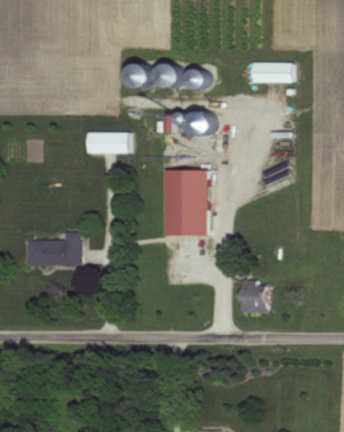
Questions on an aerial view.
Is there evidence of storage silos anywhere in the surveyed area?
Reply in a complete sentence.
Yes, a storage silo is visible in the scene.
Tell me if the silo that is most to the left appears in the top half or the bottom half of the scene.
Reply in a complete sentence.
Seen from above, the silo that is most to the left lies in the top half of the view.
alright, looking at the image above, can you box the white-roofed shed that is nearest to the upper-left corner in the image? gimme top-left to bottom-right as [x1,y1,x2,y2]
[84,132,134,154]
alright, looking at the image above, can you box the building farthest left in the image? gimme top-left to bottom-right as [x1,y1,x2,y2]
[28,231,84,266]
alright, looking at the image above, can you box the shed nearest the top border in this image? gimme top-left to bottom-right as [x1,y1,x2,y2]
[250,62,298,83]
